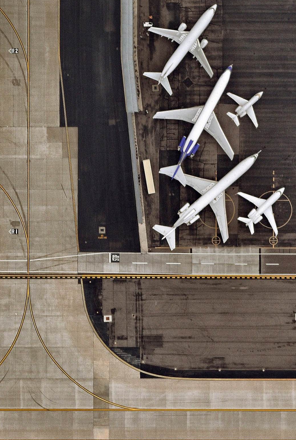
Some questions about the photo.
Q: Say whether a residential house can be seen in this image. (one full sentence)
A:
No, I can see no residential house in this picture.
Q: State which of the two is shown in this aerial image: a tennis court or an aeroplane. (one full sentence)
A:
Visible in the photo is an aeroplane.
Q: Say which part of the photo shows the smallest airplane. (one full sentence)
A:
Look in the top right portion of the view to spot the smallest airplane.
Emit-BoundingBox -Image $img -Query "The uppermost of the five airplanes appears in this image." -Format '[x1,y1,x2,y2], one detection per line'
[143,4,218,94]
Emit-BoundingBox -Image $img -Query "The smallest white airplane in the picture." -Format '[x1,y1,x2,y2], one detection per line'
[226,91,263,128]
